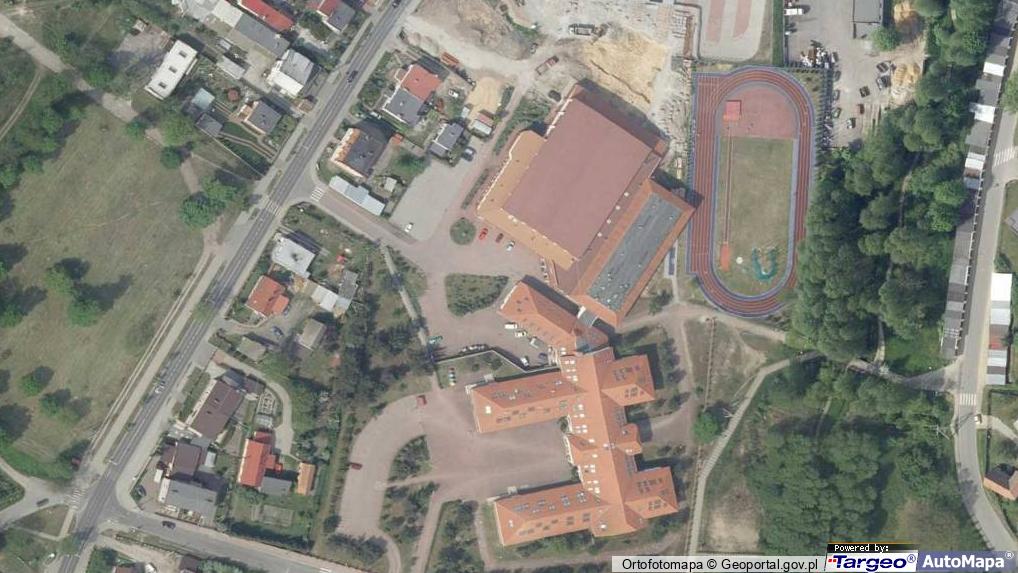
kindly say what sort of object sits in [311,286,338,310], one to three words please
building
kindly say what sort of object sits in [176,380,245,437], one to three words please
house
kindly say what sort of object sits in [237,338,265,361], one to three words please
shed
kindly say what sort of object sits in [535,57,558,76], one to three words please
vehicle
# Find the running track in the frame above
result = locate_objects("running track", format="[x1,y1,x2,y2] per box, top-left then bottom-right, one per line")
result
[686,66,814,316]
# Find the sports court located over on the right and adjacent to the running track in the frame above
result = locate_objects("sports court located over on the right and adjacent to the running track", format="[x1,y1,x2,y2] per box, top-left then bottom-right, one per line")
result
[671,0,764,61]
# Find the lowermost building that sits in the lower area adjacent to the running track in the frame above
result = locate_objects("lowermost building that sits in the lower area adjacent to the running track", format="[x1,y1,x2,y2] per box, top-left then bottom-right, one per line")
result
[462,281,678,545]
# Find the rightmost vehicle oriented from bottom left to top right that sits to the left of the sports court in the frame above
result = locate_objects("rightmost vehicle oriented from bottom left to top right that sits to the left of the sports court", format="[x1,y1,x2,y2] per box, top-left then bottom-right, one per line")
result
[588,24,606,40]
